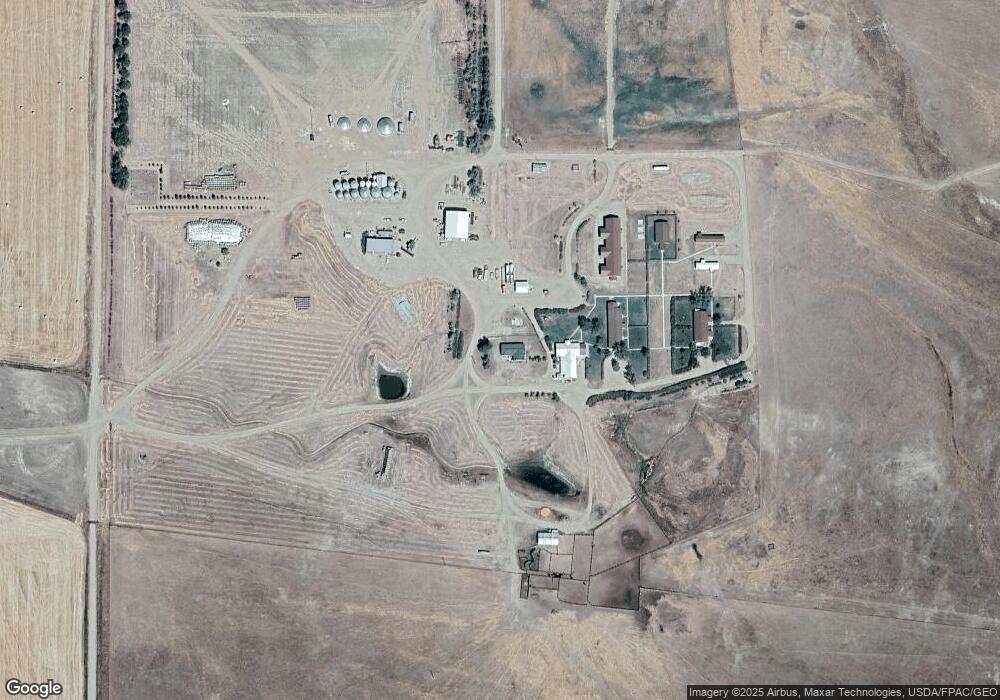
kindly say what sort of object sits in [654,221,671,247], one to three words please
building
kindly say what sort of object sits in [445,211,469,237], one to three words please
shed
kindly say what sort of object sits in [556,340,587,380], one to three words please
building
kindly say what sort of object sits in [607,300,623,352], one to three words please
house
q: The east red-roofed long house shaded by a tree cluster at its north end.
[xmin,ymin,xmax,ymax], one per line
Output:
[694,309,711,346]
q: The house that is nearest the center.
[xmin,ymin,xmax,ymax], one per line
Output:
[501,343,525,362]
